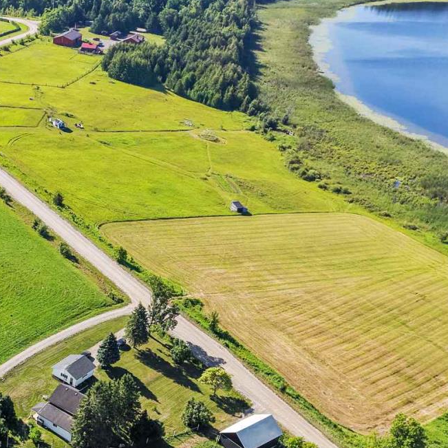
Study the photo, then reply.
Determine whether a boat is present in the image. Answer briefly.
No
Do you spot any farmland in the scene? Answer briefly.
Yes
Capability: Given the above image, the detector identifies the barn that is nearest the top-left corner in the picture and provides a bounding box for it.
[54,28,85,47]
